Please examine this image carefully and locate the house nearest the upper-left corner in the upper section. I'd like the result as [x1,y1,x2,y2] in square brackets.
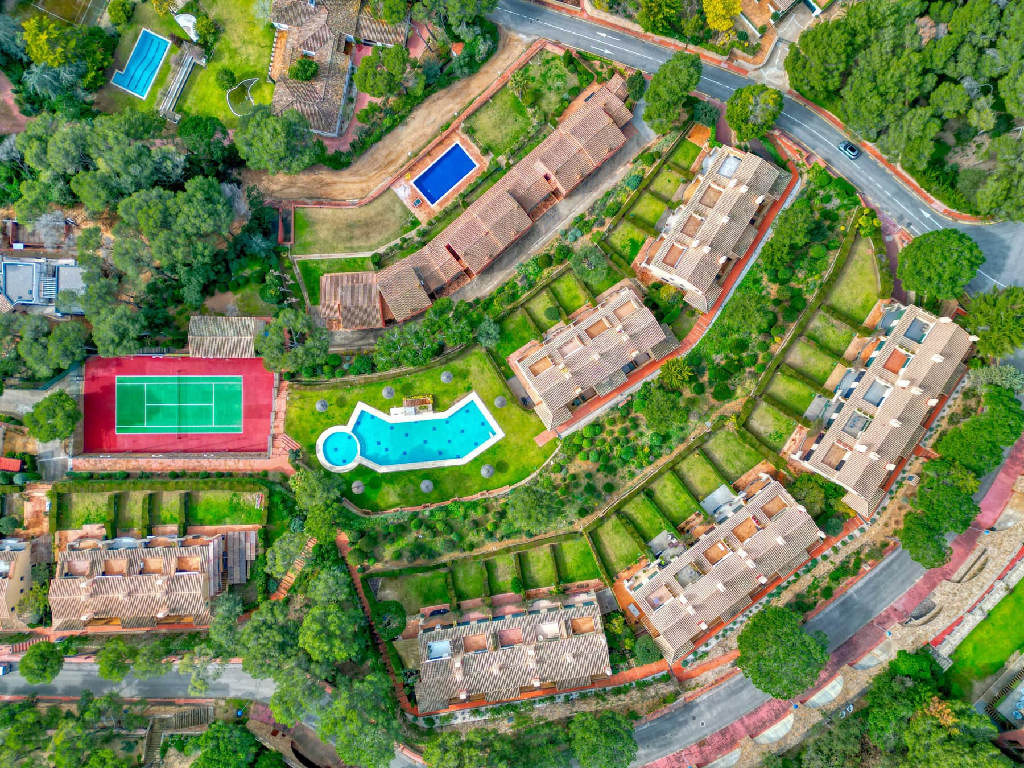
[0,263,98,315]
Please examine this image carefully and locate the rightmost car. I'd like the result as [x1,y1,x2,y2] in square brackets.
[838,139,864,160]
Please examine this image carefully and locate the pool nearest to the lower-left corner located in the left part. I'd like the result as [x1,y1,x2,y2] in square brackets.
[315,425,360,473]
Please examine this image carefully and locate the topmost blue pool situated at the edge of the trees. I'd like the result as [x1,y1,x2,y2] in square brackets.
[110,28,171,100]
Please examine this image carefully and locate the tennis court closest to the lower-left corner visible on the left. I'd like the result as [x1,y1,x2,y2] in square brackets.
[83,357,273,453]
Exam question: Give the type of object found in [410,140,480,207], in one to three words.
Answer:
swimming pool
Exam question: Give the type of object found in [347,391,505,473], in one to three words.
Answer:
swimming pool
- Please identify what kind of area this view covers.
residential area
